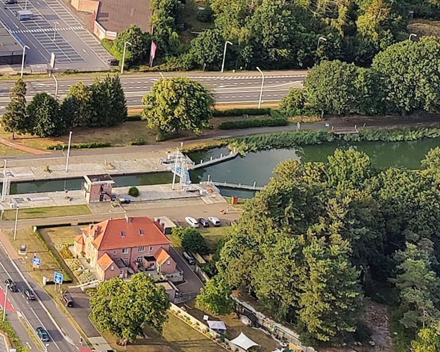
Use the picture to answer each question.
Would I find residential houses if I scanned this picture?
Yes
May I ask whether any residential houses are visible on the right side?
No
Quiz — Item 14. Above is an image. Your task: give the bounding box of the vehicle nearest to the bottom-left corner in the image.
[35,327,50,339]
